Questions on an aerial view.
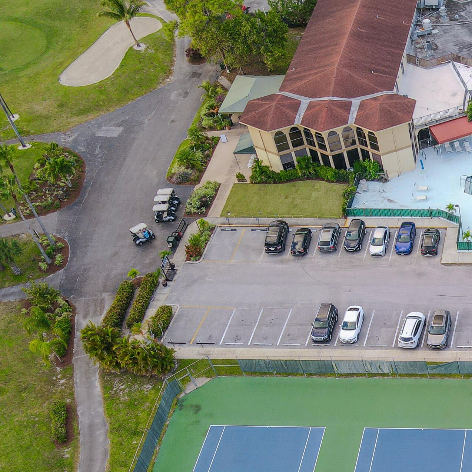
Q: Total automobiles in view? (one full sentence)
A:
Altogether the scene contains 11 automobiles.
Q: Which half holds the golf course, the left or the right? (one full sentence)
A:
The golf course sits on the left side.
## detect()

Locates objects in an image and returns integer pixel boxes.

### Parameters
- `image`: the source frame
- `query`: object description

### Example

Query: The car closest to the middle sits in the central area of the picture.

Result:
[264,220,291,251]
